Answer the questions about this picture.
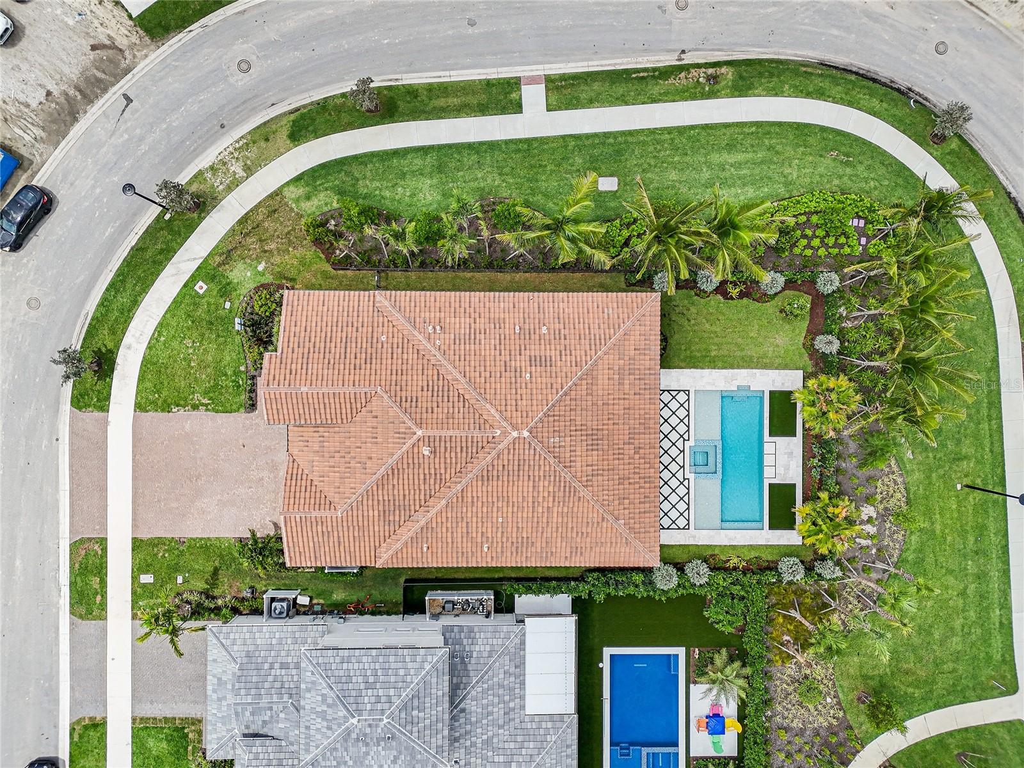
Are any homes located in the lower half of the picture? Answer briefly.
Yes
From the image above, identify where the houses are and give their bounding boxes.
[258,290,662,570]
[204,613,580,768]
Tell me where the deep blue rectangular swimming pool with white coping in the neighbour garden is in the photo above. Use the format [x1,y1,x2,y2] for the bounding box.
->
[603,646,686,768]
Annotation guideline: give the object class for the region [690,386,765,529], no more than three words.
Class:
swimming pool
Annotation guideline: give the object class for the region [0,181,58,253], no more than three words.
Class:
car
